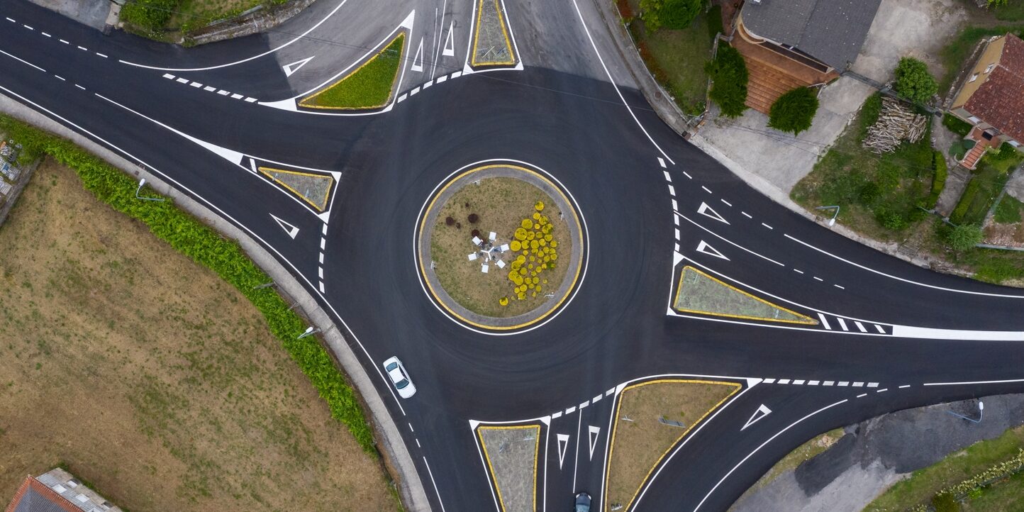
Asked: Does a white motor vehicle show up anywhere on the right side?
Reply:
No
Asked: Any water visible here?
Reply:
No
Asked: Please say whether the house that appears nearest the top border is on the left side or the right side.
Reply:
right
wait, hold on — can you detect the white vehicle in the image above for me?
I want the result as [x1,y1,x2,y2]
[384,356,416,398]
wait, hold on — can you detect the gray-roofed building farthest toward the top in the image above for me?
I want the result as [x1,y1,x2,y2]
[735,0,878,74]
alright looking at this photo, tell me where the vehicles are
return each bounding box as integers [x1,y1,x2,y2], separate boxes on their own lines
[574,493,593,512]
[384,356,416,398]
